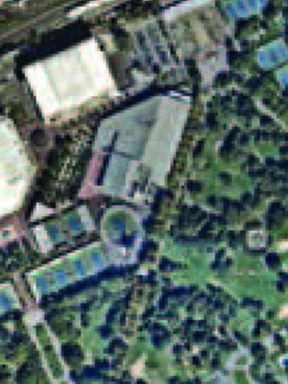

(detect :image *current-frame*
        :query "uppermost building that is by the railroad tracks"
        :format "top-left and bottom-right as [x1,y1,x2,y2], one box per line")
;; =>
[165,0,214,21]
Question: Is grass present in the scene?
Yes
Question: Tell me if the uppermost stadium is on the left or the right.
left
